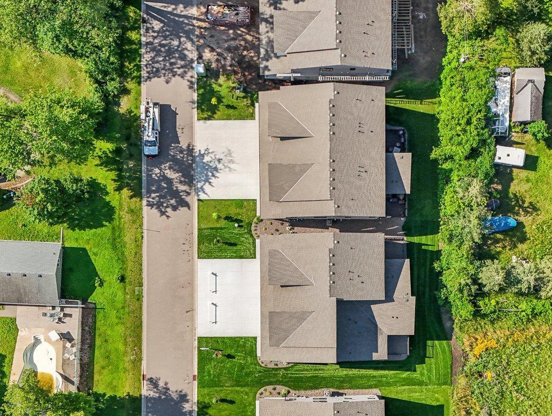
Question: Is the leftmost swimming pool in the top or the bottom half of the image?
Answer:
bottom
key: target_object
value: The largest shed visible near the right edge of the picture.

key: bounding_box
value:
[506,68,544,124]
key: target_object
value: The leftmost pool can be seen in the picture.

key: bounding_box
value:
[17,333,61,404]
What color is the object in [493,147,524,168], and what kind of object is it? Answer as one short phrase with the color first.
white vehicle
